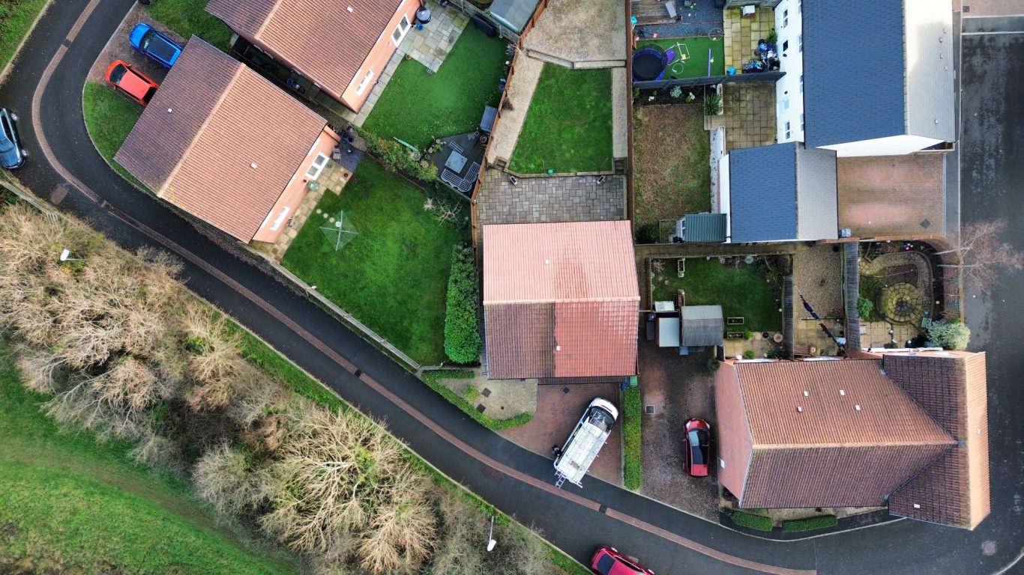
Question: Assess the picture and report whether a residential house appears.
Yes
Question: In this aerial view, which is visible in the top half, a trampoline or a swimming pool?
trampoline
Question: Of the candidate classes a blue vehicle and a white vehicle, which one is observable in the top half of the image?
blue vehicle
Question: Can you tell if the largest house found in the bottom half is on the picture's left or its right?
right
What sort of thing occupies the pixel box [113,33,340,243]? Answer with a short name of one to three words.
house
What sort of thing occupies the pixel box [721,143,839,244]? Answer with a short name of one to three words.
building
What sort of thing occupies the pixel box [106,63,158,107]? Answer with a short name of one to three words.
car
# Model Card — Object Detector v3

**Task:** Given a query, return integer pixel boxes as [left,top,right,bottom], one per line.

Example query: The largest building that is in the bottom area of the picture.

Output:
[715,347,991,532]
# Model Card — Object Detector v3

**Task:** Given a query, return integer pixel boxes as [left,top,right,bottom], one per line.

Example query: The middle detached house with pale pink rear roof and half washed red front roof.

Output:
[483,219,643,388]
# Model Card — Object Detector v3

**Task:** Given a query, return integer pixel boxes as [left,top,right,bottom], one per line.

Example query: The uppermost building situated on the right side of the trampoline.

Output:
[776,0,956,158]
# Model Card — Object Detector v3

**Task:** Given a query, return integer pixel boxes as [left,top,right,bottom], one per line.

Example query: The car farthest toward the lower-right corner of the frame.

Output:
[681,417,713,476]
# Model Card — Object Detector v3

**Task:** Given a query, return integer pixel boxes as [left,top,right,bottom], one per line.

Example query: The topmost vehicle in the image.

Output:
[132,21,186,64]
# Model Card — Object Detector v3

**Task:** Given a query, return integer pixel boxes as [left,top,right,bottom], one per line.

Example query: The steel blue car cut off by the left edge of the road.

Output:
[0,105,26,170]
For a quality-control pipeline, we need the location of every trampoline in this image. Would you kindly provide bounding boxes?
[631,39,670,81]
